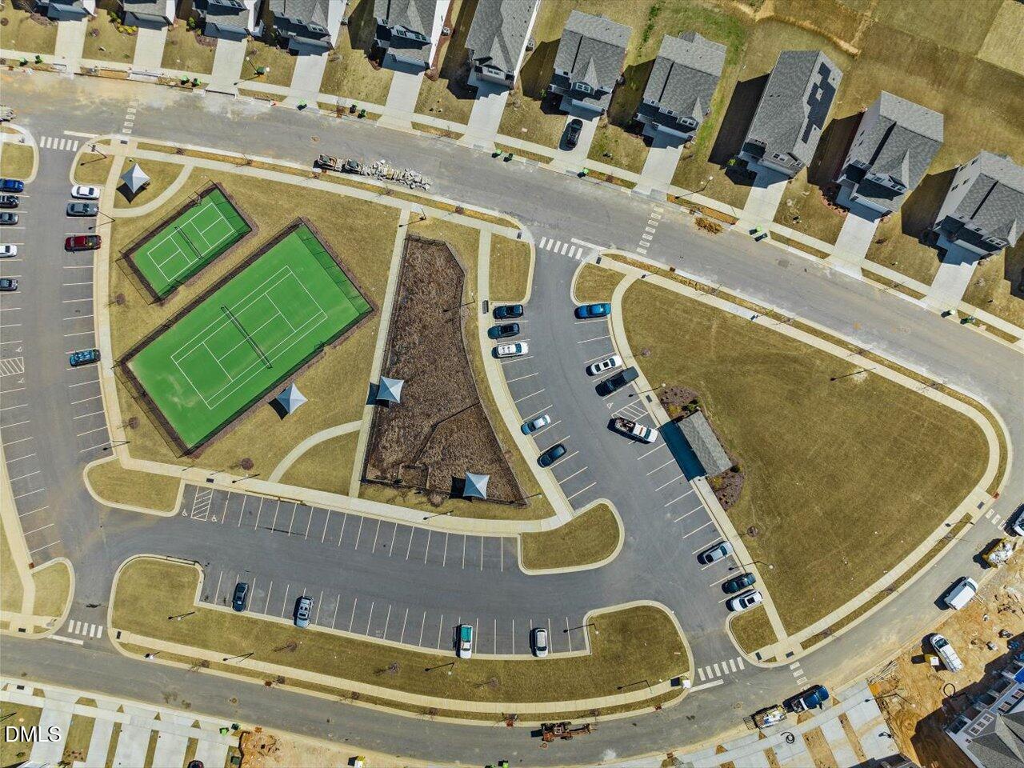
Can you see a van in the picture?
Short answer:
Yes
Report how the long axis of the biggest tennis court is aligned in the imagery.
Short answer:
diagonally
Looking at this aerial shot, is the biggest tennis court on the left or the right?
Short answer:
left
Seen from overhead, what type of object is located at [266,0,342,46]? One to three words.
house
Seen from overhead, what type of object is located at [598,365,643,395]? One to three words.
truck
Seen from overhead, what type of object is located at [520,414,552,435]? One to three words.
car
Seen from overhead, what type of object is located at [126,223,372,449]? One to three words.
tennis court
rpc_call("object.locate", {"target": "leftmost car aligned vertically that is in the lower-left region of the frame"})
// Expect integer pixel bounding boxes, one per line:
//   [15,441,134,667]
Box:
[232,583,248,612]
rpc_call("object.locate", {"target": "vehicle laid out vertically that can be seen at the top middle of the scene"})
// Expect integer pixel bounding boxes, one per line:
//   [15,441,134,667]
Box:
[566,117,583,148]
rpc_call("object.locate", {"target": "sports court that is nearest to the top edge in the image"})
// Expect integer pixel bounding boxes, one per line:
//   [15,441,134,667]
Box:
[130,186,250,300]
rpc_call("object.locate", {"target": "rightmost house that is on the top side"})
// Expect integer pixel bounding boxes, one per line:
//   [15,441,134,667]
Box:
[933,149,1024,258]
